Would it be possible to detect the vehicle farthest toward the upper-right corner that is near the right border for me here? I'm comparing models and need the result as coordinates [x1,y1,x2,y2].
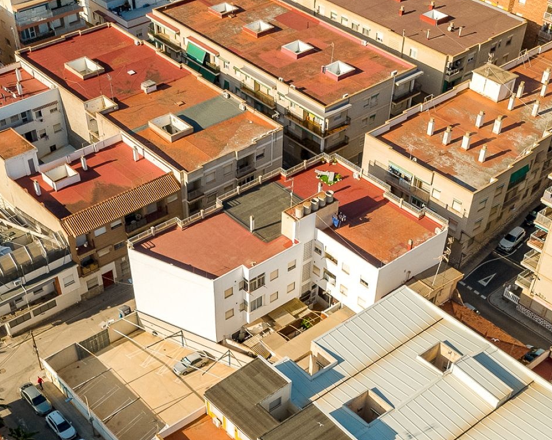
[521,202,550,228]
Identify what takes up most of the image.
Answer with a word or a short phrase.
buildings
